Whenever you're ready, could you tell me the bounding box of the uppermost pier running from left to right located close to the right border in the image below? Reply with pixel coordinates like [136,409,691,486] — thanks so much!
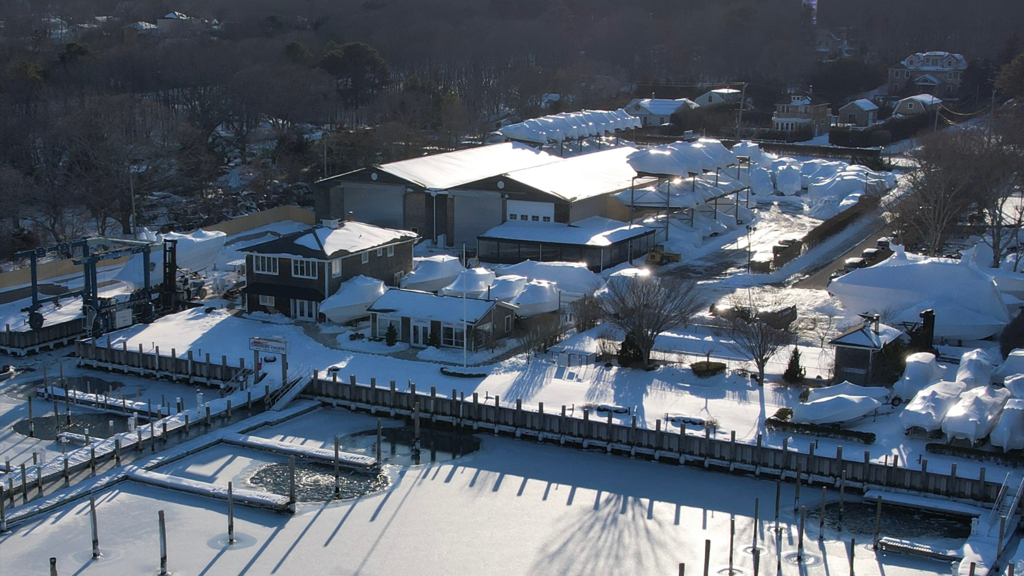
[864,493,982,520]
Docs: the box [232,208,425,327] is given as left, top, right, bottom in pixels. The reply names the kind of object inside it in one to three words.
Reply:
building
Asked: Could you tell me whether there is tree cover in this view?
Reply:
Yes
